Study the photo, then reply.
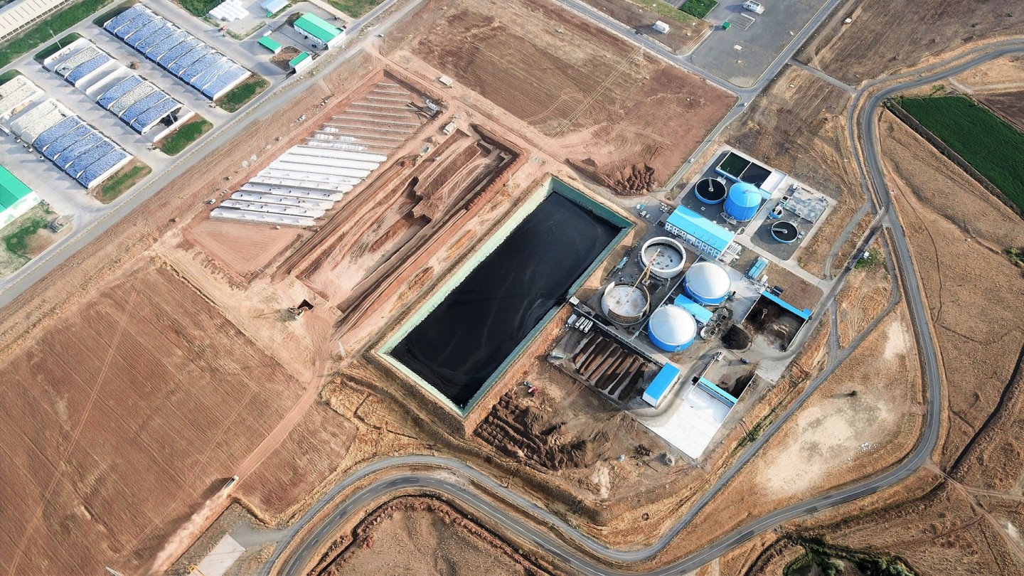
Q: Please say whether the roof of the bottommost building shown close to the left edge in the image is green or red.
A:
green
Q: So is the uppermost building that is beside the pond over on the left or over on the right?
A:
right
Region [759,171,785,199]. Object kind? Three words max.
building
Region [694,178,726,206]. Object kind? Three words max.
storage tank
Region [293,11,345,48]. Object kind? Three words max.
barn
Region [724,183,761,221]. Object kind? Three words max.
storage tank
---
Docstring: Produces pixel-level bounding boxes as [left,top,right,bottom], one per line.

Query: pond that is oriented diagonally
[377,176,635,418]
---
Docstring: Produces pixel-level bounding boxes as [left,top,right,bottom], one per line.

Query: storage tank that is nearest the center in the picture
[603,285,649,324]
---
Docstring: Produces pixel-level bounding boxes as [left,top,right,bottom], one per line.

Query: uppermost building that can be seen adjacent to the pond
[664,205,735,258]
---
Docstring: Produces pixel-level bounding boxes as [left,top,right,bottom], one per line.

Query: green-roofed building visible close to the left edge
[0,158,37,220]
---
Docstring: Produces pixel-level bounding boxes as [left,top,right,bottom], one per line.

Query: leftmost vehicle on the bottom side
[220,475,237,492]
